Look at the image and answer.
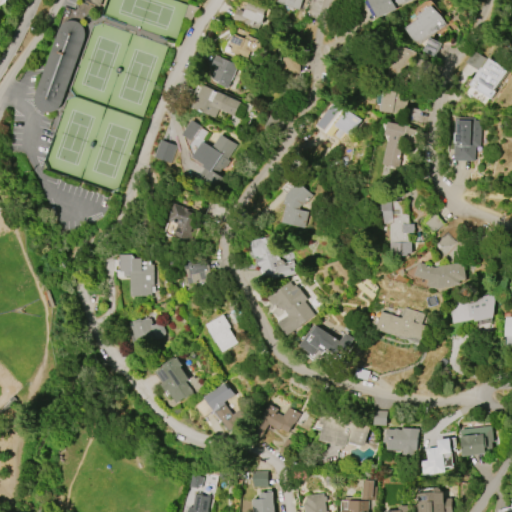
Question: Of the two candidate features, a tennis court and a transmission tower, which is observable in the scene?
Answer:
tennis court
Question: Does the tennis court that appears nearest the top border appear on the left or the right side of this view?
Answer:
left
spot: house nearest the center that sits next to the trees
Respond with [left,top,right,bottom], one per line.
[252,238,296,277]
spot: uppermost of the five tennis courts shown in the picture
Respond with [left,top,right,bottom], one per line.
[106,0,188,39]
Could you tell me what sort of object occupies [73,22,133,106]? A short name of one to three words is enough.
tennis court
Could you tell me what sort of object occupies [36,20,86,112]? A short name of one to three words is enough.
building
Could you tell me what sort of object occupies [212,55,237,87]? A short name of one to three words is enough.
house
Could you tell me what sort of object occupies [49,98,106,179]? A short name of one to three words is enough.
tennis court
